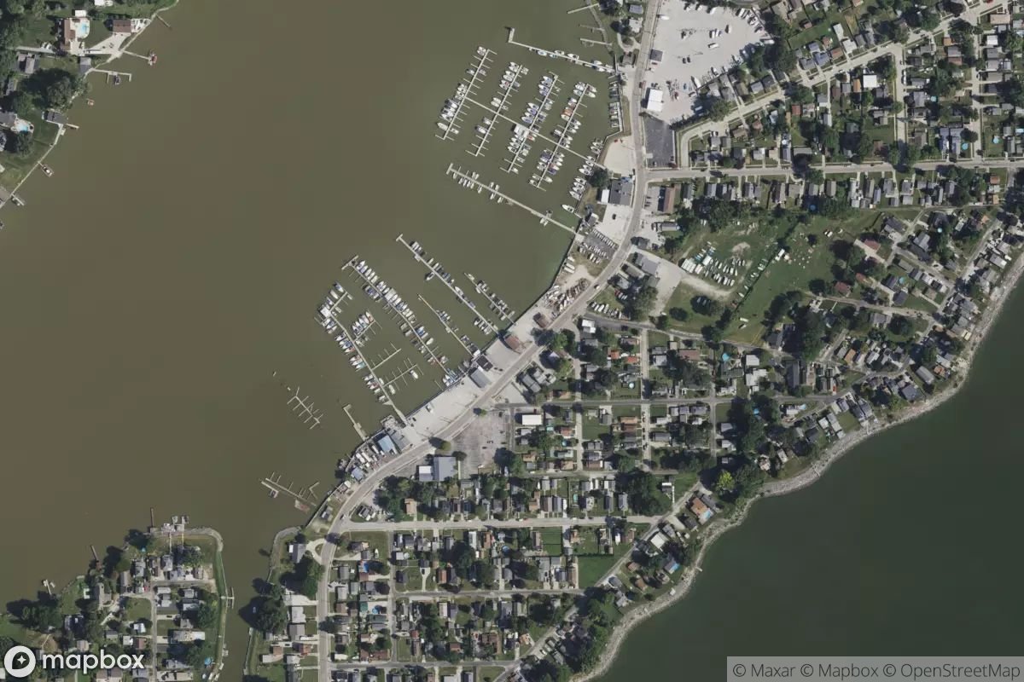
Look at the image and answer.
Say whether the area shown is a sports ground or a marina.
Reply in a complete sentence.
This looks like a marina.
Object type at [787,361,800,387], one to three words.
building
